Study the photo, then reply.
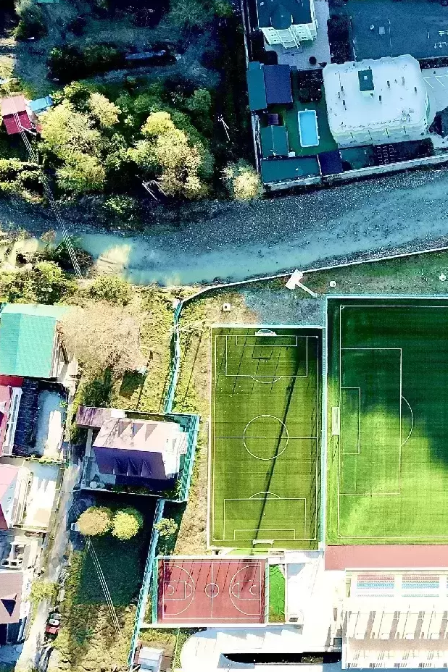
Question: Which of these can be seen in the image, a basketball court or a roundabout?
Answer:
basketball court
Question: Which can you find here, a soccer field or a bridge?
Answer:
soccer field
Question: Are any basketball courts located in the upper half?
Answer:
No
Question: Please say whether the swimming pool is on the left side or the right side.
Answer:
right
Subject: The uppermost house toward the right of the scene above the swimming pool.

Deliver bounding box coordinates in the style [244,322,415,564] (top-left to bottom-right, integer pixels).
[257,0,318,52]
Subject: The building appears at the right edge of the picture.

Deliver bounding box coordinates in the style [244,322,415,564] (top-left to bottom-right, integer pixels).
[323,53,432,151]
